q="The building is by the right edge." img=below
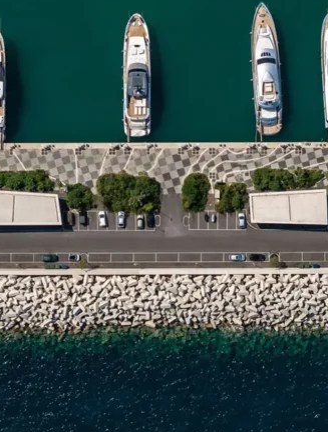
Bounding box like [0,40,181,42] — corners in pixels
[248,189,328,226]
